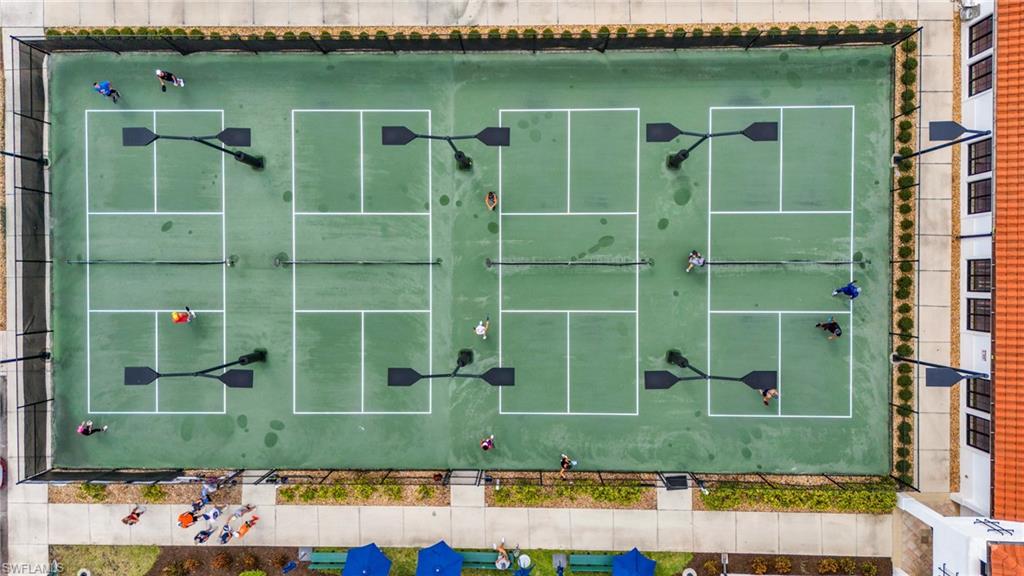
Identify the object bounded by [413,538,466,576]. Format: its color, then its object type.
blue umbrella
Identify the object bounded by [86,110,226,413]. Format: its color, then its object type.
green sports court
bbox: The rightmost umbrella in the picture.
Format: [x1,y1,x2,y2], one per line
[608,545,658,576]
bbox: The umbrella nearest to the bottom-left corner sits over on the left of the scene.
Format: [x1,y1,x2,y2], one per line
[340,541,394,576]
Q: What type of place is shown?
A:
sports ground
